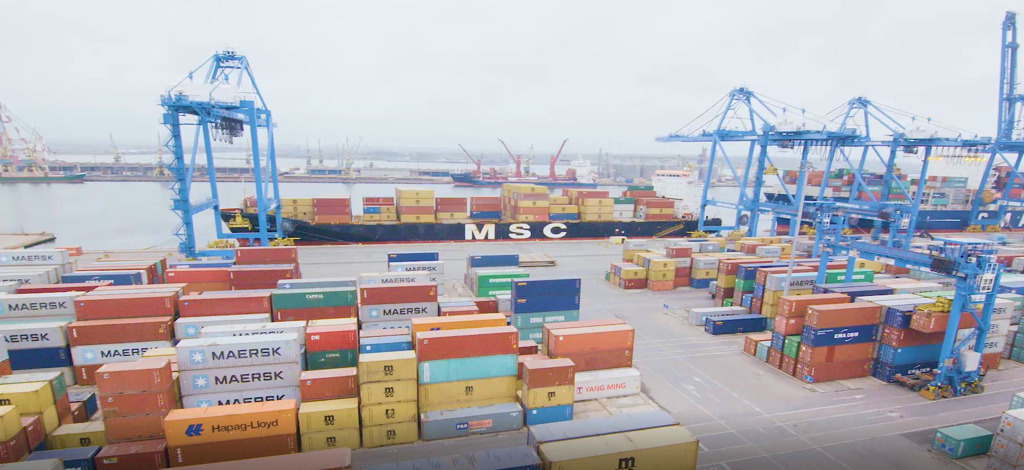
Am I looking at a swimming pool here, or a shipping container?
shipping container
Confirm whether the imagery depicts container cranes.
Yes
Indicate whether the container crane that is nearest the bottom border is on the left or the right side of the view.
right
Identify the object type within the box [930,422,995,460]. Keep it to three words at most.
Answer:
shipping container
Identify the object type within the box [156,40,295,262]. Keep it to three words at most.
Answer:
container crane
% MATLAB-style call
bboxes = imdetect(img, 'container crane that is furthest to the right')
[967,14,1024,227]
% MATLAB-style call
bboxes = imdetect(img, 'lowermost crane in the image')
[804,230,1019,401]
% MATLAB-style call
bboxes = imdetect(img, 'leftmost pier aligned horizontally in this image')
[0,232,55,252]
